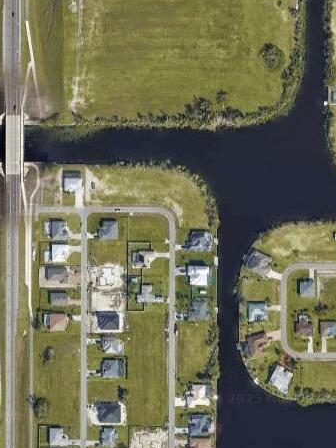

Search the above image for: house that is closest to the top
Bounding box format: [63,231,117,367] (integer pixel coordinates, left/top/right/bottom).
[63,172,82,192]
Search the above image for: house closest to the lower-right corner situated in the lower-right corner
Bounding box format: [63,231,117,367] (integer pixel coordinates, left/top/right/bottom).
[267,364,295,393]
